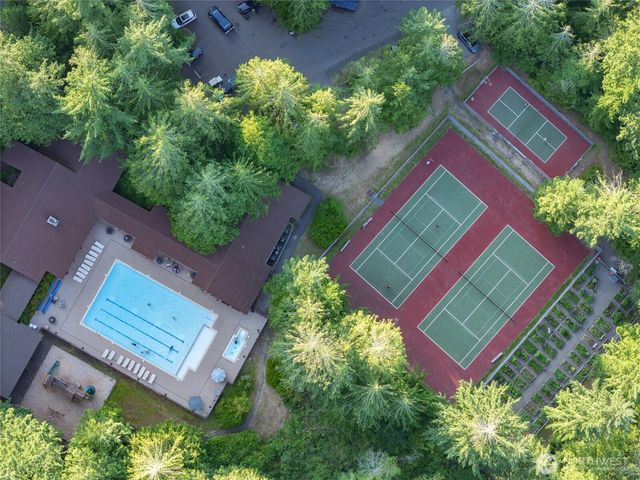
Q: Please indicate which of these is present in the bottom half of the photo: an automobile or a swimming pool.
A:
swimming pool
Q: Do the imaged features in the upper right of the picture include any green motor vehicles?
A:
No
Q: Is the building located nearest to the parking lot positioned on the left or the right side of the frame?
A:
left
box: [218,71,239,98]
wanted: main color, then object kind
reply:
blue car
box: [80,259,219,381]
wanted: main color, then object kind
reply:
blue swimming pool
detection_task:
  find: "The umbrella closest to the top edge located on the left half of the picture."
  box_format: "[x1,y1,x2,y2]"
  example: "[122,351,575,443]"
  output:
[211,368,226,382]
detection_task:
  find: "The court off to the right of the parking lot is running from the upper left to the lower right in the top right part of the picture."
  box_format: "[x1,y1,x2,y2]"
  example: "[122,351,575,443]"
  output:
[467,68,590,178]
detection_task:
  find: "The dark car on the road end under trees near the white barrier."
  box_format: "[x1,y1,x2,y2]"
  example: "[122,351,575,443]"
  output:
[454,28,480,55]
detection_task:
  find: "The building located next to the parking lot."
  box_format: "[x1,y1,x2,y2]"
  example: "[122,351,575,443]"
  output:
[0,111,311,314]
